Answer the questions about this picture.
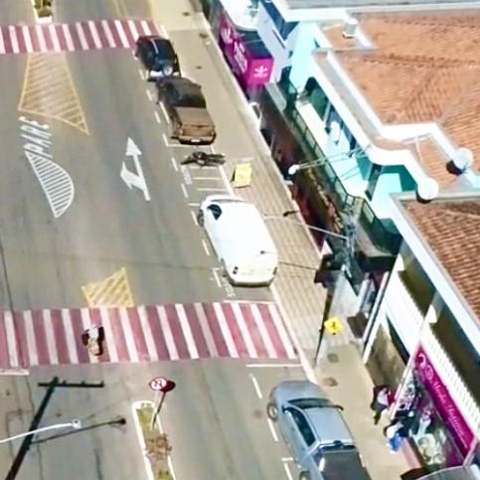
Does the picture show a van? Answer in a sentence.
Yes, a van can be made out from above.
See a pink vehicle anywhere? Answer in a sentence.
No, the scene contains no pink vehicle.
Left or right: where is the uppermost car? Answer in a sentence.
You can find the uppermost car on the left side of the picture.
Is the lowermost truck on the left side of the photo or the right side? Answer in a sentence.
It is on the right.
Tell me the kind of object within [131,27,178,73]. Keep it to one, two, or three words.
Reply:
car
